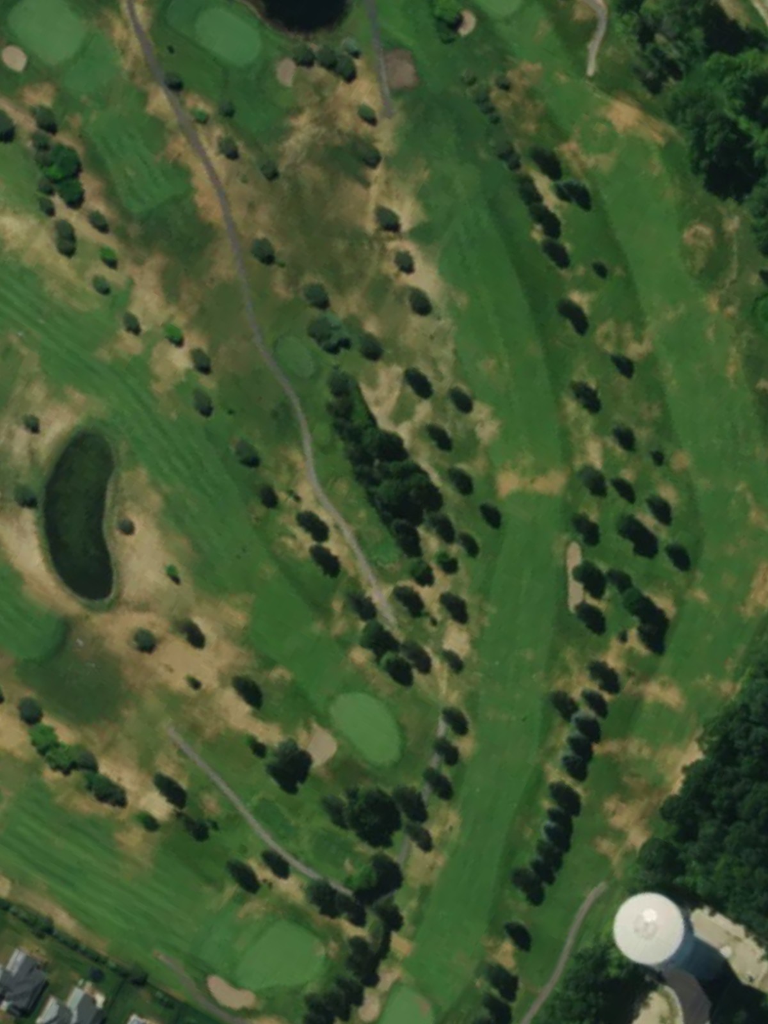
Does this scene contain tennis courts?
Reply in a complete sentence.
No, no tennis court is visible in the view.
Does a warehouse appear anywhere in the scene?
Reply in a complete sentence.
No, no warehouse can be seen from above.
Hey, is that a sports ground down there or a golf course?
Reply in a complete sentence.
What you see here is a golf course.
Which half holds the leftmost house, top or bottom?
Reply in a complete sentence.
The bottom half of the photo is where the leftmost house is.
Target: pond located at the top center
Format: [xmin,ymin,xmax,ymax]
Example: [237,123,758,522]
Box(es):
[261,0,352,35]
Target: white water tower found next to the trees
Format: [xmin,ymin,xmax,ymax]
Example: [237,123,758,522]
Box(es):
[614,892,726,984]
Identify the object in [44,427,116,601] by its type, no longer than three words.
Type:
pond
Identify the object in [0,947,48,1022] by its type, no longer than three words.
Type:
house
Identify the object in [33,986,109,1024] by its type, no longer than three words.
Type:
house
